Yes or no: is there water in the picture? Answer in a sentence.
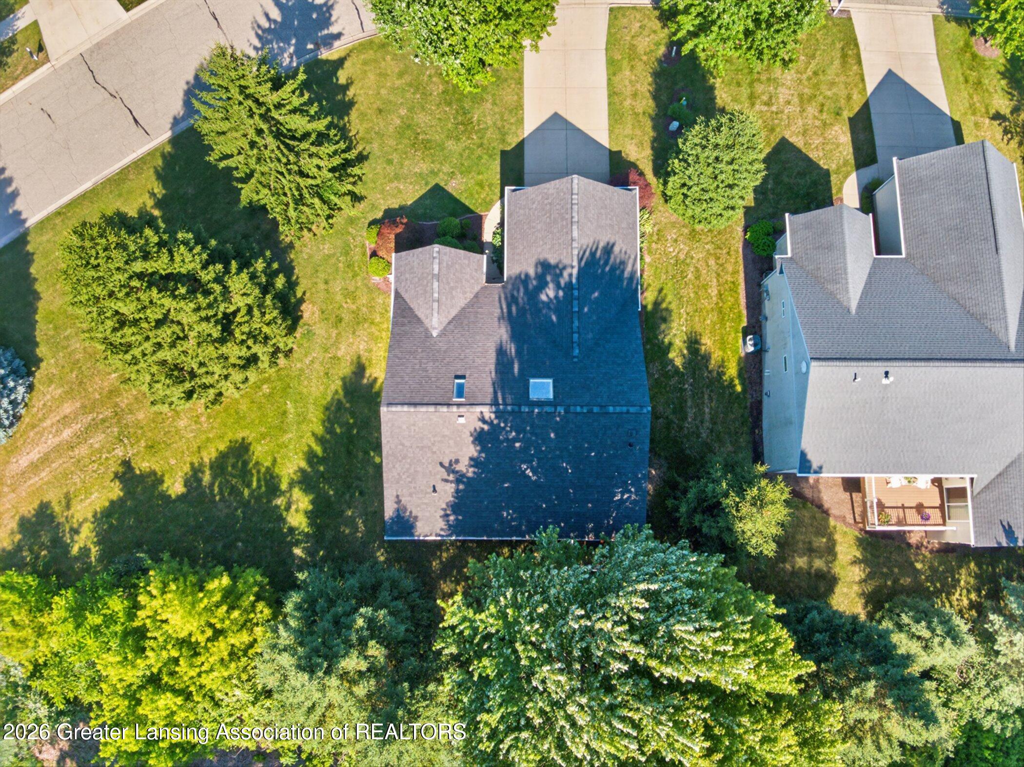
No, there's no water in this view.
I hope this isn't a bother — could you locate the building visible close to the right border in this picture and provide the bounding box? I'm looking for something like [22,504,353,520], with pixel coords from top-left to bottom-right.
[757,137,1024,549]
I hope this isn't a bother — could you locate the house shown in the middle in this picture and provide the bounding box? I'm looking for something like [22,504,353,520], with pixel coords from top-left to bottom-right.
[379,174,653,542]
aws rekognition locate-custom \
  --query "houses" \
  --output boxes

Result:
[379,174,653,542]
[757,137,1024,549]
